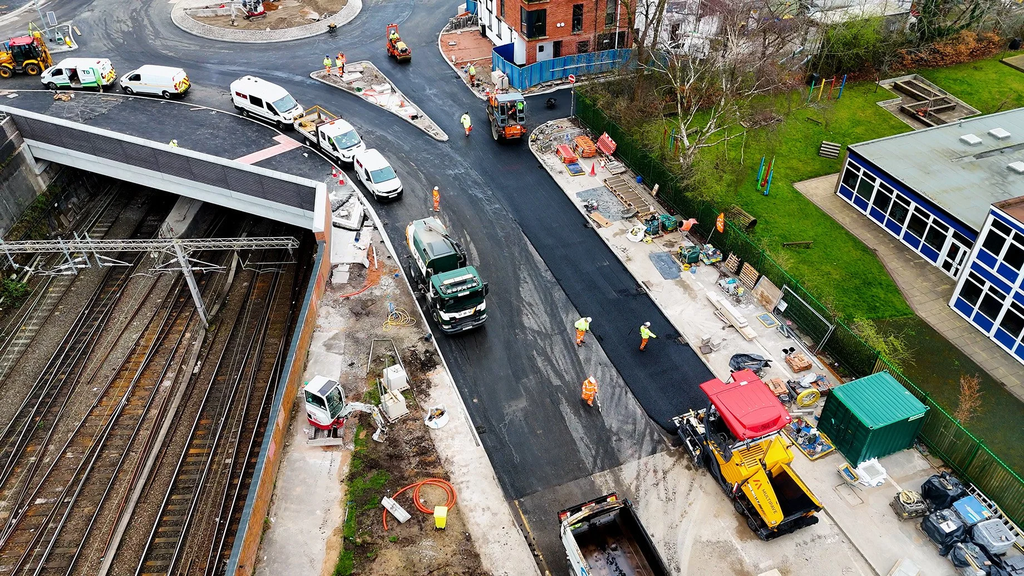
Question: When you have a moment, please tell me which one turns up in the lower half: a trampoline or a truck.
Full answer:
Looking in the lower half, you will find a truck.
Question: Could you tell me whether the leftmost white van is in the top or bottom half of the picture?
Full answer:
The top half of the photo is where the leftmost white van is.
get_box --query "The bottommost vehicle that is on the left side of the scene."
[302,384,388,450]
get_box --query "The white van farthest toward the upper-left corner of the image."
[38,58,115,92]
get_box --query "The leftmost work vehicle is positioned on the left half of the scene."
[0,30,63,78]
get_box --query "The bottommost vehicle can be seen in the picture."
[552,491,675,576]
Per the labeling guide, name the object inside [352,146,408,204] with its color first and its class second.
white van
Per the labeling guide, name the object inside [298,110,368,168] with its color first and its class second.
white truck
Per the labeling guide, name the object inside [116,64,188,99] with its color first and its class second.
white van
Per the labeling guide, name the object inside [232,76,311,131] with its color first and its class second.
white vehicle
